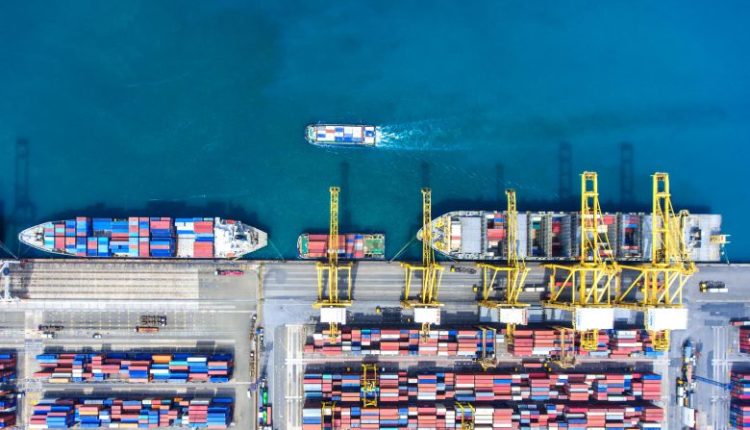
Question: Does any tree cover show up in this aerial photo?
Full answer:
No, no tree cover is visible.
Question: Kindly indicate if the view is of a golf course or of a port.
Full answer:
This looks like a port.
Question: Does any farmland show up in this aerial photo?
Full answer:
No, farmland can't be seen anywhere here.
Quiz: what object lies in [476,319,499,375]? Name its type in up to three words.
container crane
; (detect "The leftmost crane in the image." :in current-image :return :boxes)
[0,262,32,306]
